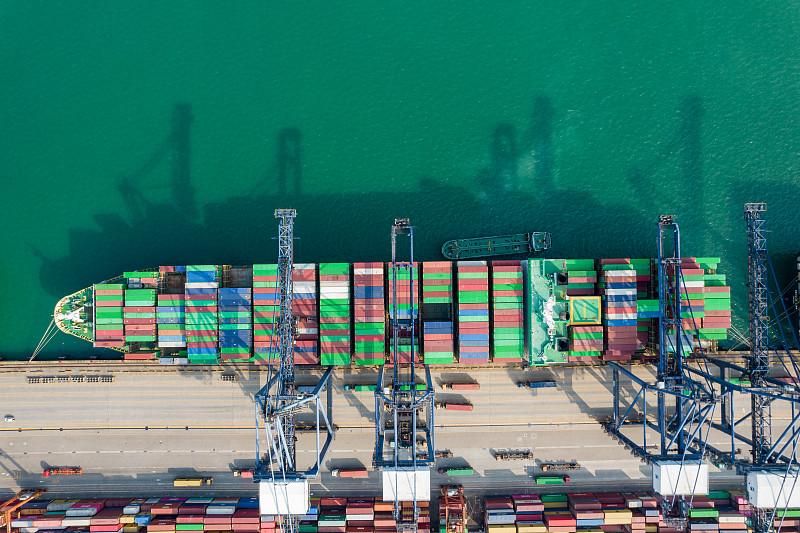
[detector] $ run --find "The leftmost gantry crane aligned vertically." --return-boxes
[251,202,342,533]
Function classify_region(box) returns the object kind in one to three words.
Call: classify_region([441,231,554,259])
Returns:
ship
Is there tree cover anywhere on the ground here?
No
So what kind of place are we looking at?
port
